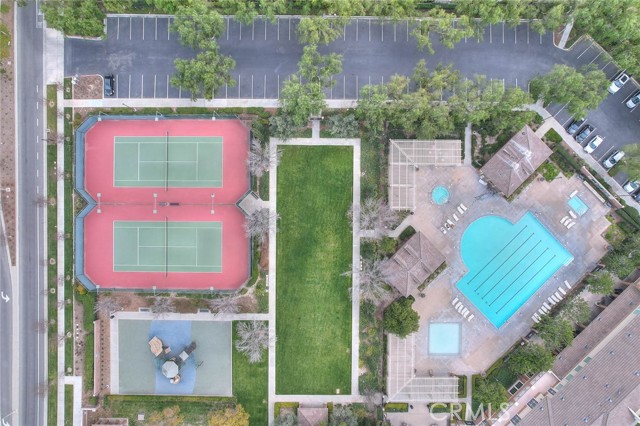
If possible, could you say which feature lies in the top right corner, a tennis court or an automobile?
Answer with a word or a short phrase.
automobile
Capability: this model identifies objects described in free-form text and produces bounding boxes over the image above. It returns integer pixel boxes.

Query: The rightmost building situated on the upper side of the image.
[478,125,554,197]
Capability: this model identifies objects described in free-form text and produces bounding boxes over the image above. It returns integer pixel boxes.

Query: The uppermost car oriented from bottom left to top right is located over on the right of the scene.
[608,71,632,95]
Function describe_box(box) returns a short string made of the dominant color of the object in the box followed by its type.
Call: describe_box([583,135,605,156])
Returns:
white car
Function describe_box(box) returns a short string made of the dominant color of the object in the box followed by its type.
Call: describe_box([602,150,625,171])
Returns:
white car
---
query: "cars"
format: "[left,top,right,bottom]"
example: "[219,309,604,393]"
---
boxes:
[626,92,640,112]
[602,150,625,171]
[564,116,586,136]
[608,71,632,95]
[583,135,605,156]
[622,176,640,196]
[104,74,116,97]
[574,122,596,144]
[631,191,640,206]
